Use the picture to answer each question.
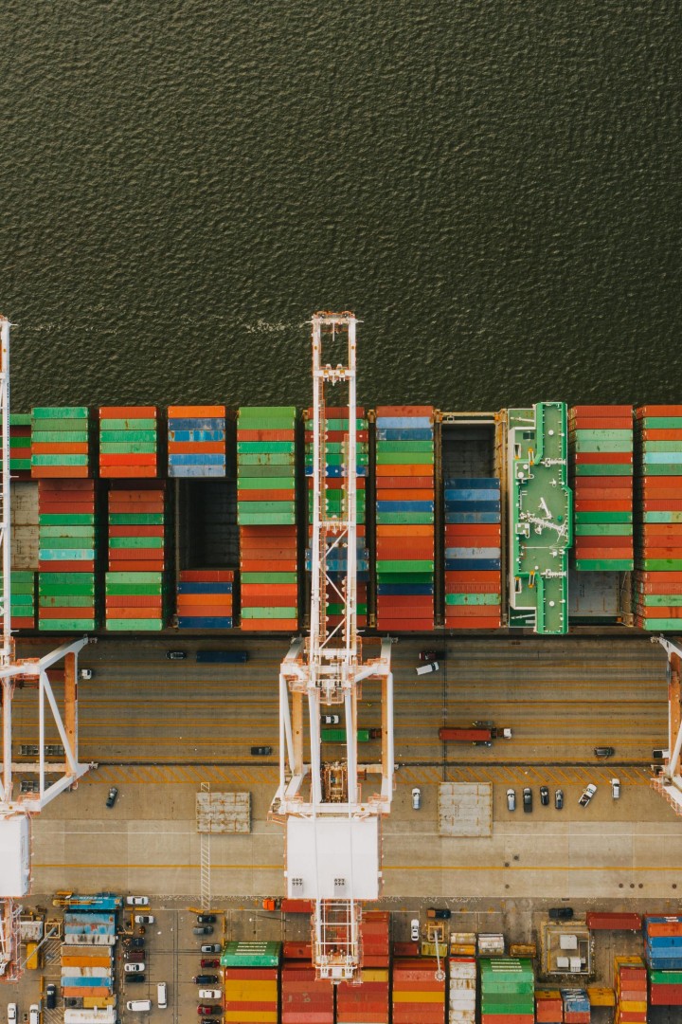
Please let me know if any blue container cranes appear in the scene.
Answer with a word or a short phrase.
No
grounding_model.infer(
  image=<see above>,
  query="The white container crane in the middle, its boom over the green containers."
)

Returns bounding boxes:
[268,309,399,988]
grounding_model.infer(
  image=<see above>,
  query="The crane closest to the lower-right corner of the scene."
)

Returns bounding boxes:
[642,636,682,823]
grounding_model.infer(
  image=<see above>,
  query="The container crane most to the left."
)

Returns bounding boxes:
[0,311,103,982]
